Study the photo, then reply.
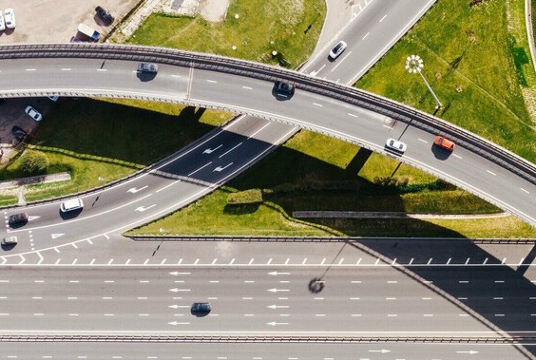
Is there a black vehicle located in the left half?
Yes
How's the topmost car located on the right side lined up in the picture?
diagonally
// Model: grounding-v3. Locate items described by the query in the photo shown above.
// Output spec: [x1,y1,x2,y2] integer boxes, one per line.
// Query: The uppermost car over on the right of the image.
[327,40,347,61]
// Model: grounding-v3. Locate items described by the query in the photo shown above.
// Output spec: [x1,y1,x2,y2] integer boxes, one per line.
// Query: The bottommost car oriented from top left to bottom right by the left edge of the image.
[9,126,30,143]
